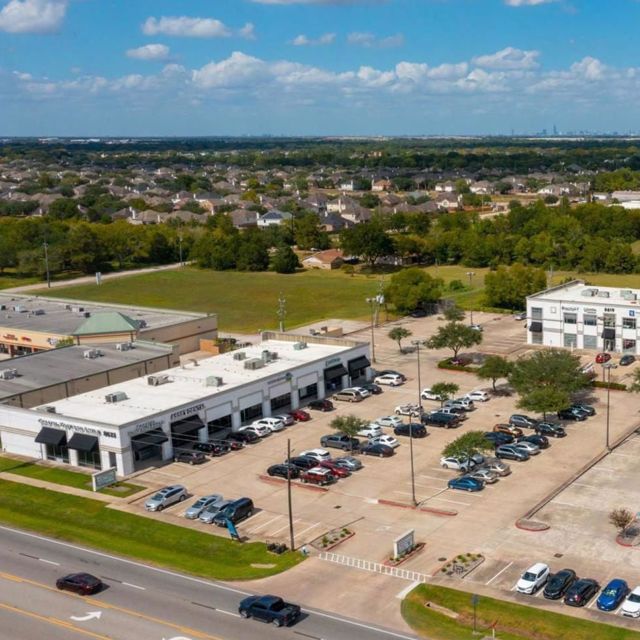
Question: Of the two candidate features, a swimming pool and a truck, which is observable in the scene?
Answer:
truck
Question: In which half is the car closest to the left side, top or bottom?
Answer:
bottom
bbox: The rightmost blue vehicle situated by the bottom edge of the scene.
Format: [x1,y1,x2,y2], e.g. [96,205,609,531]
[592,578,627,611]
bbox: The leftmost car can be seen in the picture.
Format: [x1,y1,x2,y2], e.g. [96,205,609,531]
[55,569,104,595]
